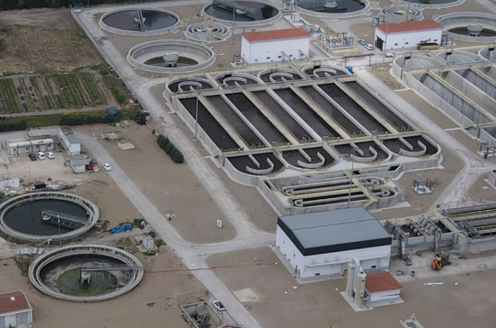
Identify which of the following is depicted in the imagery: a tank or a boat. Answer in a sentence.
The one in the frame is a tank.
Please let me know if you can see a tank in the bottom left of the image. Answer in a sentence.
Yes, I can see a tank in the bottom left of the image.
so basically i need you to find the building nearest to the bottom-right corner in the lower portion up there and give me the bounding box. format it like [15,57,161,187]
[367,273,407,306]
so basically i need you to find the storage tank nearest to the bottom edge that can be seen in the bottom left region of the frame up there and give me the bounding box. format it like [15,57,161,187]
[22,245,150,309]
